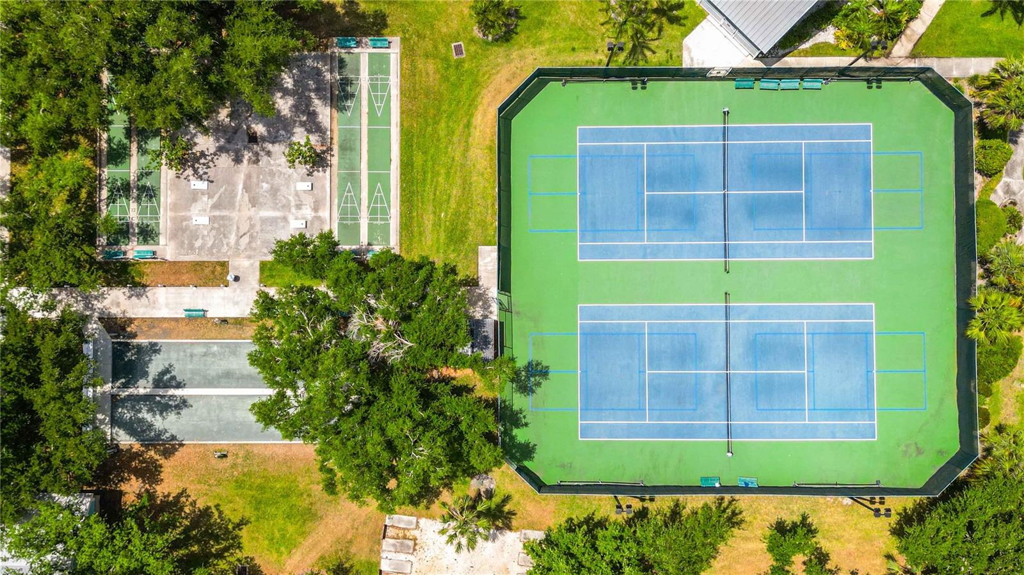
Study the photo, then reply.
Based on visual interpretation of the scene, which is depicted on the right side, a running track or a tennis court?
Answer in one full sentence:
You can see a tennis court on the right side.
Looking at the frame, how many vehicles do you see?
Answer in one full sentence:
The picture shows no vehicles.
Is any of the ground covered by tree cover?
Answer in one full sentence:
Yes, tree cover can be seen from above here.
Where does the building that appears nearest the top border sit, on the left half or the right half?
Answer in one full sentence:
The building that appears nearest the top border sits on the right side.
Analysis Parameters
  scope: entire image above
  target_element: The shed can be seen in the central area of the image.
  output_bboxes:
[466,318,496,356]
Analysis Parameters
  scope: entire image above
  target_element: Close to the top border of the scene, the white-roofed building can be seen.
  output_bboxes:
[680,0,822,66]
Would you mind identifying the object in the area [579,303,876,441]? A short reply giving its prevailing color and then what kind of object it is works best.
blue tennis court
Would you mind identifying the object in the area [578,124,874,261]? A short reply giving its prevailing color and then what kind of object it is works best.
blue tennis court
